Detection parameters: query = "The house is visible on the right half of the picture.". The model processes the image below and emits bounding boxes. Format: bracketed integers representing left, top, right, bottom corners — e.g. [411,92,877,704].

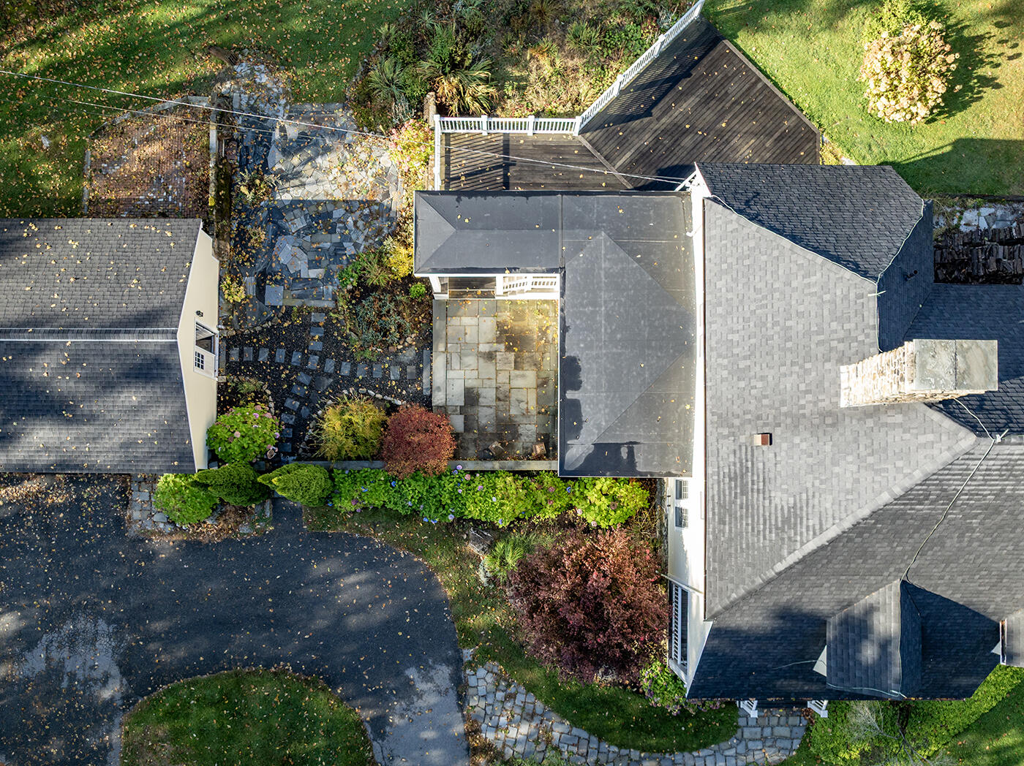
[413,162,1024,721]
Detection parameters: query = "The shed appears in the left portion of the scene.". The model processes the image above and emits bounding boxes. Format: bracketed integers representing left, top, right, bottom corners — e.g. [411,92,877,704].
[0,218,223,474]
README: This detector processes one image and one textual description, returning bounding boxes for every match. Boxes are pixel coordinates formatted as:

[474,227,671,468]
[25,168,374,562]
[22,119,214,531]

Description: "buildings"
[413,162,1024,721]
[0,218,223,474]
